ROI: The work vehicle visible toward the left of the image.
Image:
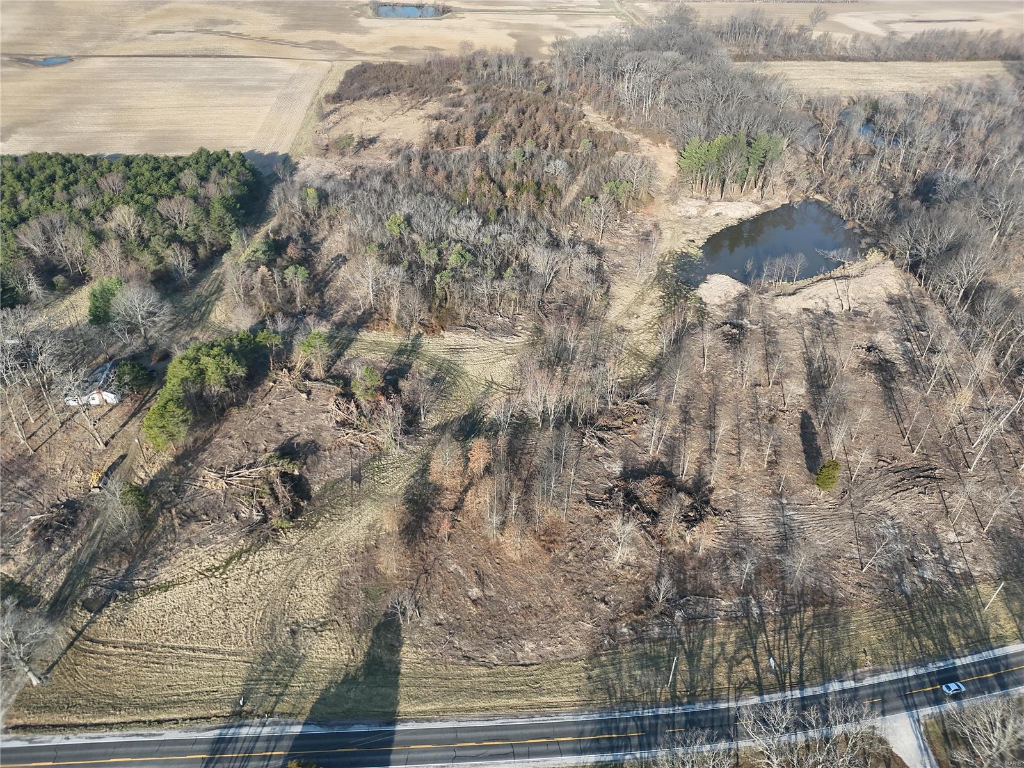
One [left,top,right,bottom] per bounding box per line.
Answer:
[83,472,106,491]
